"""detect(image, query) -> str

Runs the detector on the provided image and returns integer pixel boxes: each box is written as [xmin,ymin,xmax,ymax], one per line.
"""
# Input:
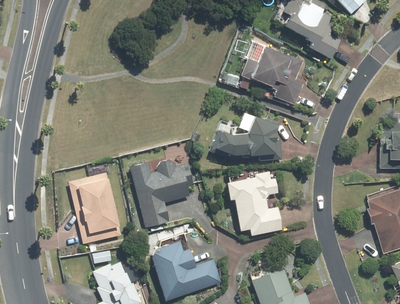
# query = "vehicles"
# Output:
[279,124,290,142]
[334,52,350,66]
[316,195,324,211]
[6,205,15,222]
[335,84,348,102]
[362,243,378,258]
[66,237,80,246]
[300,98,316,109]
[346,68,358,83]
[64,216,77,232]
[194,252,210,264]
